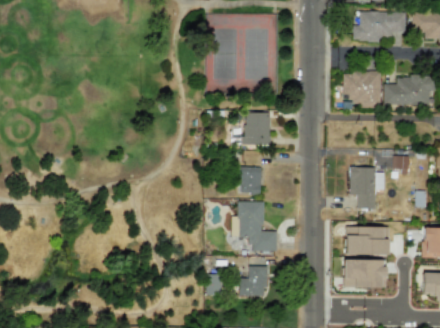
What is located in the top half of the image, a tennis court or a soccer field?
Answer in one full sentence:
What appears in the top half of the image is a tennis court.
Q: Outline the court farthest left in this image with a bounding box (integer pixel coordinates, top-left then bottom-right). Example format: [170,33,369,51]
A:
[206,14,240,95]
